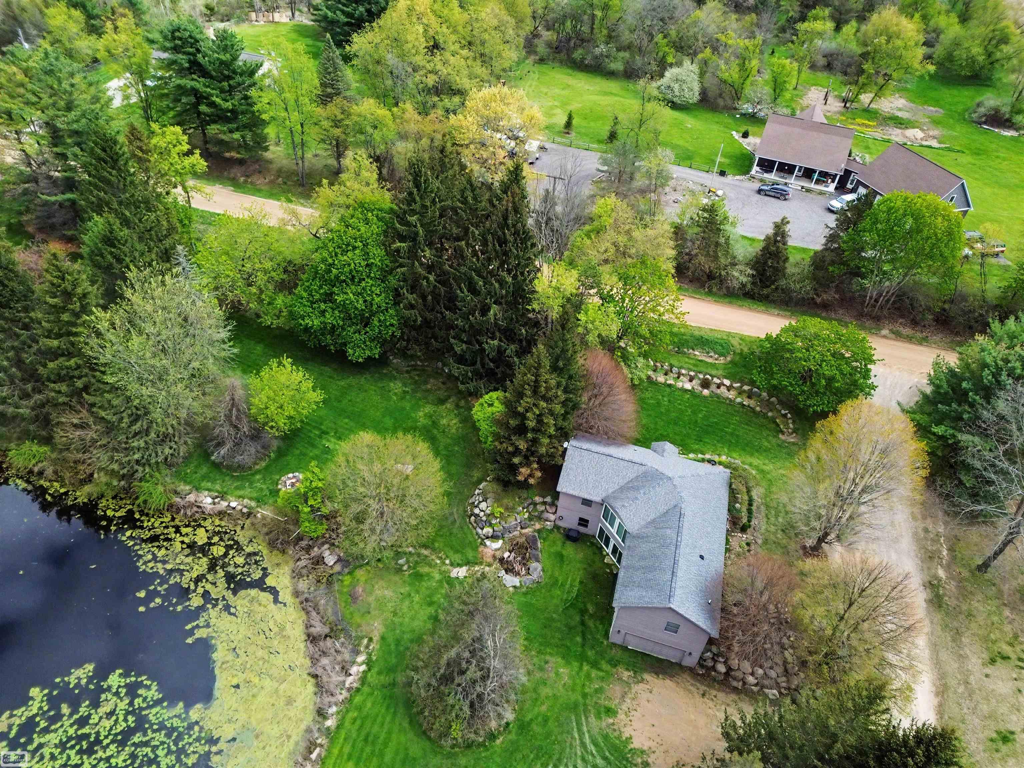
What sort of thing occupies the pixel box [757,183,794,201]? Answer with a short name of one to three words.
car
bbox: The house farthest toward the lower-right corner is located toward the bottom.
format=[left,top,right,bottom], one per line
[555,434,732,667]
